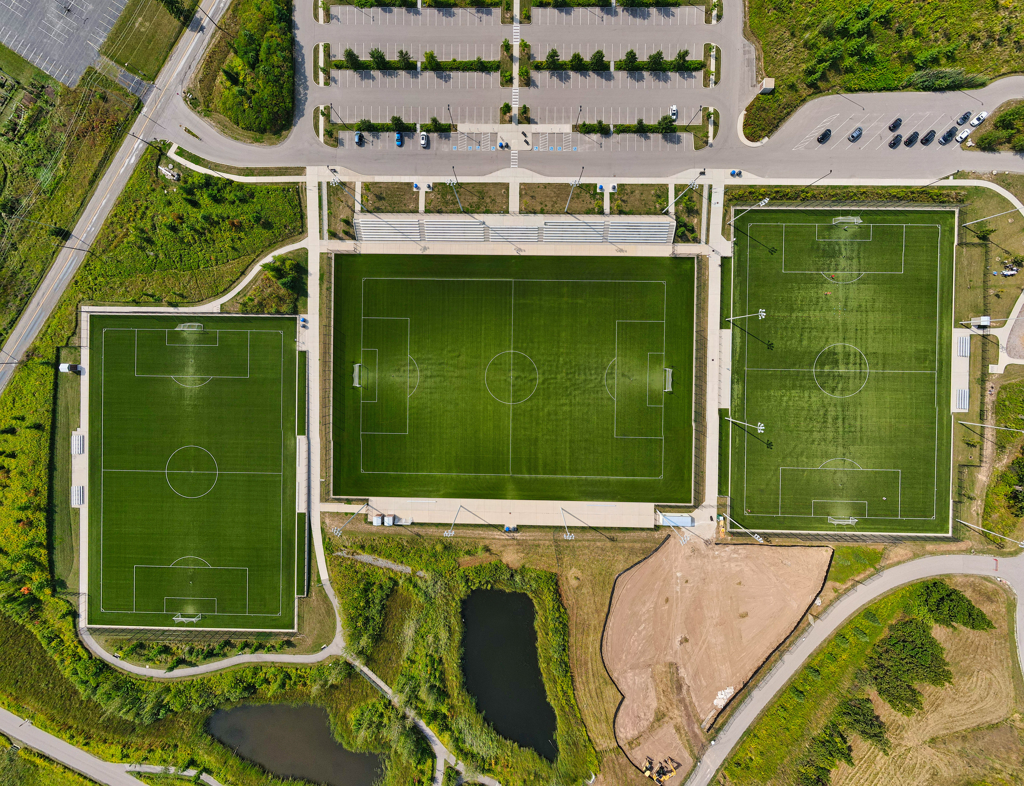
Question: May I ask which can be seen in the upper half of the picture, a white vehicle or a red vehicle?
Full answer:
You can see a white vehicle in the upper half of the picture.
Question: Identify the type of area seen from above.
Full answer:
It's a sports ground.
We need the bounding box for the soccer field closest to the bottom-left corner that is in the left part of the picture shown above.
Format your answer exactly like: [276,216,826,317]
[86,313,298,631]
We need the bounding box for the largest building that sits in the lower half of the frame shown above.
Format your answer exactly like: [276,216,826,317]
[658,513,694,527]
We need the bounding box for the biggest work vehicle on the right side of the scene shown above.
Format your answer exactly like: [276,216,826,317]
[653,757,676,782]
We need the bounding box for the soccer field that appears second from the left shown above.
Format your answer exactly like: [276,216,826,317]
[331,252,697,505]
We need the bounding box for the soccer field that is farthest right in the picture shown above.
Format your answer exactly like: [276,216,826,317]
[729,207,957,536]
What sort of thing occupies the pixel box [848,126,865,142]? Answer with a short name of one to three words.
car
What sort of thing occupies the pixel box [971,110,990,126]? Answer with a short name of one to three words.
car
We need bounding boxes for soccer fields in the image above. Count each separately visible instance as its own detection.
[729,207,957,536]
[331,252,697,505]
[86,313,298,631]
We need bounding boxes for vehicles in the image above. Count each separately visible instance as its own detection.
[394,131,402,146]
[889,117,905,131]
[818,129,834,143]
[353,131,362,144]
[653,757,676,782]
[957,111,972,125]
[641,755,655,775]
[956,128,971,142]
[921,130,939,145]
[971,110,990,126]
[905,132,921,146]
[940,128,958,143]
[848,126,865,142]
[419,132,427,146]
[889,135,904,148]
